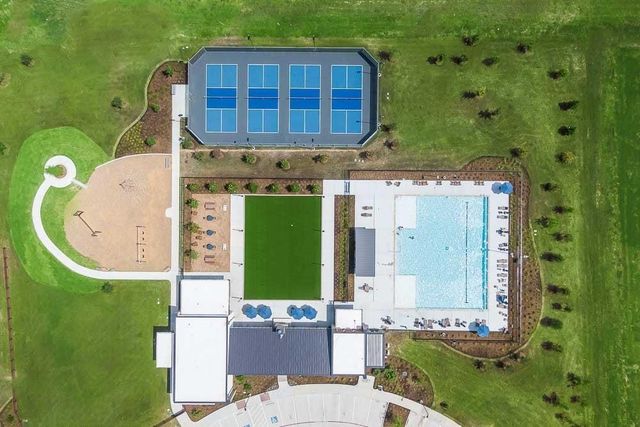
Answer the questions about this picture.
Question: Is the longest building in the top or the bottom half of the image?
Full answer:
Seen from above, the longest building lies in the bottom half of the view.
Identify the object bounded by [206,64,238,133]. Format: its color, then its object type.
blue sports court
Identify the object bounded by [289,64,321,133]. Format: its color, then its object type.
blue sports court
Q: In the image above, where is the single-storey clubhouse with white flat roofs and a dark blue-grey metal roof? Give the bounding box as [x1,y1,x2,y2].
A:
[156,277,385,403]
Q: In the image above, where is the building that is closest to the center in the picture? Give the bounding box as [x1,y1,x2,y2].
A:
[354,228,376,276]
